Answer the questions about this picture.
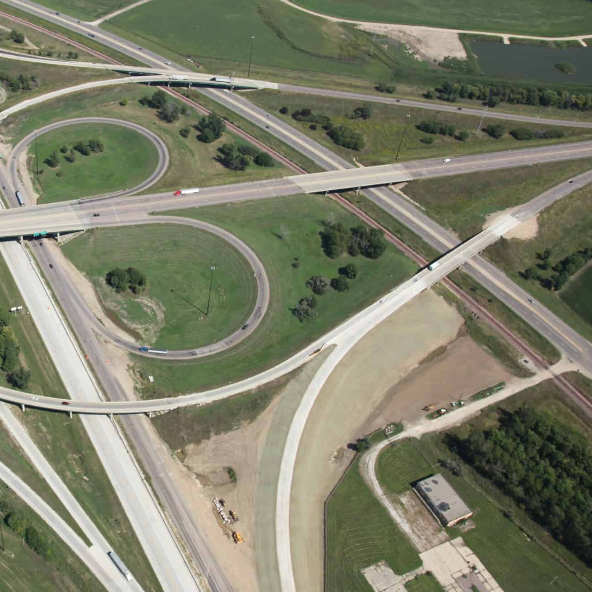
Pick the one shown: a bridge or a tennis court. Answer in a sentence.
I can see a bridge in this picture.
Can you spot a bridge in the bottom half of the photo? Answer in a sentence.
Yes, a bridge appears in the bottom half of the photo.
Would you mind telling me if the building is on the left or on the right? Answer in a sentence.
It is on the right.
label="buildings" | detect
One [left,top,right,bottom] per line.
[415,472,474,529]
